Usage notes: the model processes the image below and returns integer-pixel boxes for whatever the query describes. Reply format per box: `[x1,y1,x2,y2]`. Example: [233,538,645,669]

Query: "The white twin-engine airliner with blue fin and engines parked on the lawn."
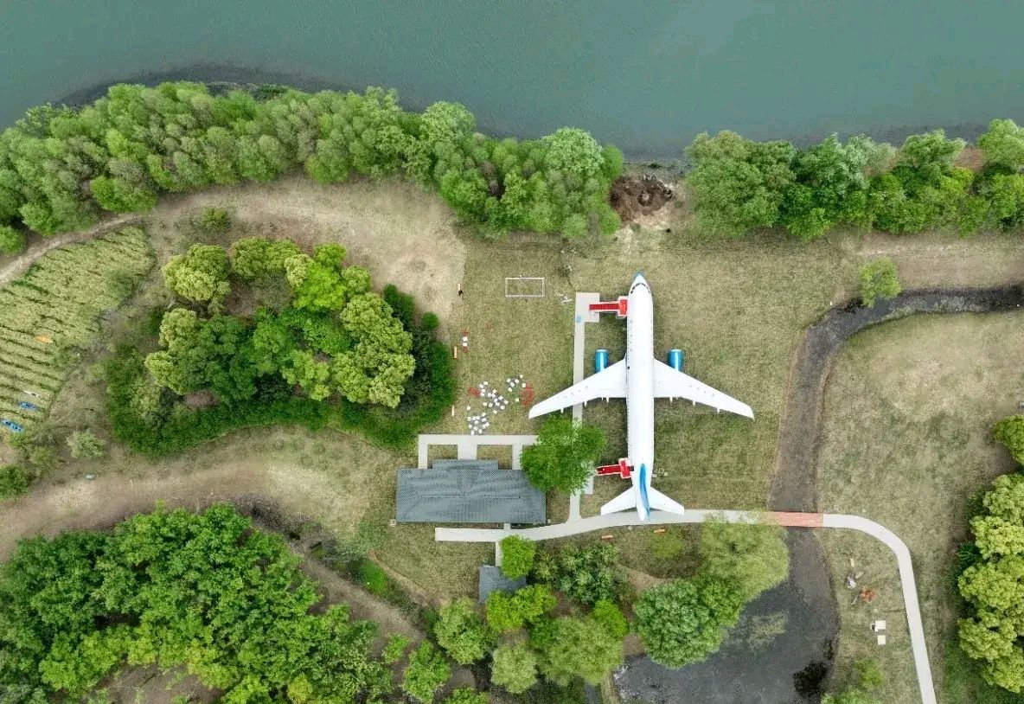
[529,273,753,522]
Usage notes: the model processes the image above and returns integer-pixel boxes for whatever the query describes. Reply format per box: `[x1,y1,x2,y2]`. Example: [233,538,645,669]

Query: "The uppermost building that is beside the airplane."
[396,457,546,524]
